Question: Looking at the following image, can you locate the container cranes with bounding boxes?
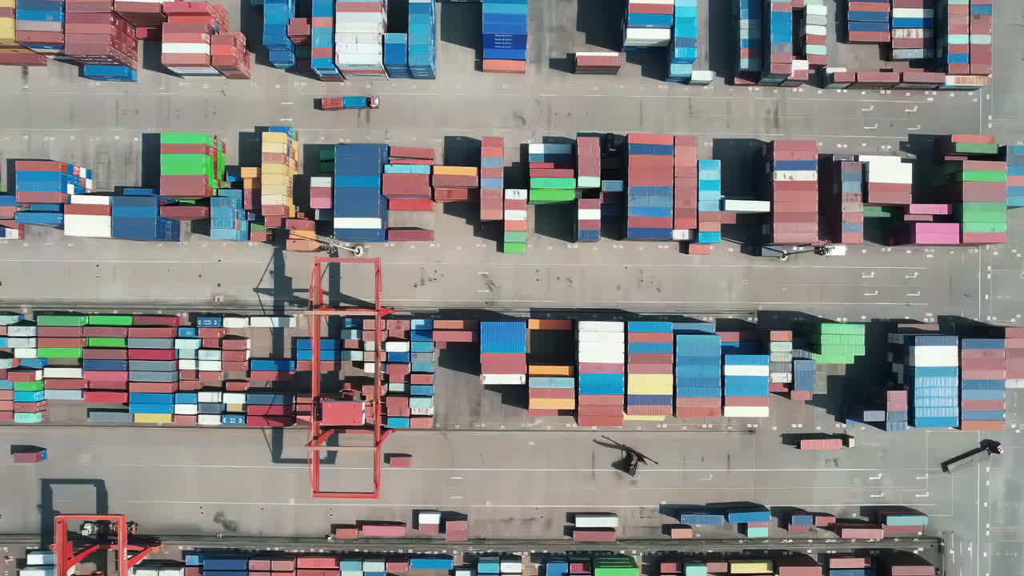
[40,513,163,576]
[303,258,396,498]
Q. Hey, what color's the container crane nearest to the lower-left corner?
red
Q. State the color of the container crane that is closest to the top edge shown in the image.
red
